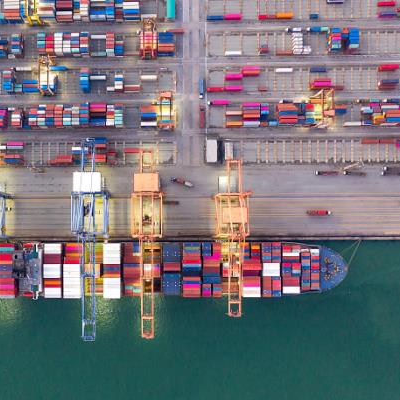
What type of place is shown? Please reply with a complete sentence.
This image shows a port.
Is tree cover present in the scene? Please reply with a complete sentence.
No, there is no tree cover in the image.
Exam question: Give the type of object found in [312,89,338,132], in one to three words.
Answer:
container crane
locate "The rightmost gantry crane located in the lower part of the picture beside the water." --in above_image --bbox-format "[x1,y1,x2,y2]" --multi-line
[204,161,252,320]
